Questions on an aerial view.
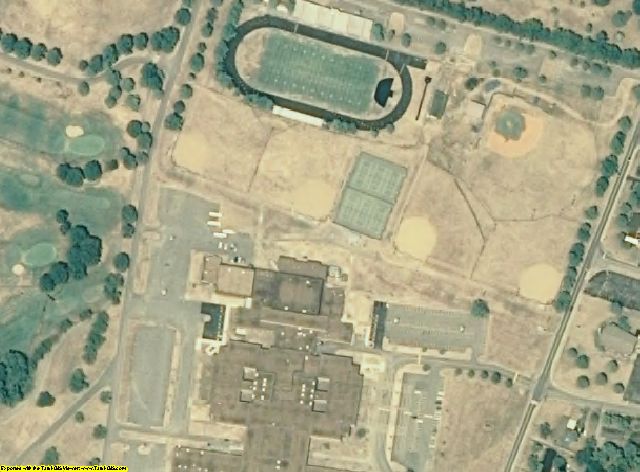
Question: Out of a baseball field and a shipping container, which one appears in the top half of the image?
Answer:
baseball field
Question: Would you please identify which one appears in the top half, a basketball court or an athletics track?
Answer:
athletics track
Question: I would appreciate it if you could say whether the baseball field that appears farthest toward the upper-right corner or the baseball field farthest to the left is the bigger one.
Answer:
the baseball field that appears farthest toward the upper-right corner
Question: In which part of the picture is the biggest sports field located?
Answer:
top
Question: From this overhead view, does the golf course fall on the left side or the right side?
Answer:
left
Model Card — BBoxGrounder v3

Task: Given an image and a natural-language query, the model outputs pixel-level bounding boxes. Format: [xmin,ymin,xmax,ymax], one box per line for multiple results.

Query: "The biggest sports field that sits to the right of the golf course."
[251,28,383,114]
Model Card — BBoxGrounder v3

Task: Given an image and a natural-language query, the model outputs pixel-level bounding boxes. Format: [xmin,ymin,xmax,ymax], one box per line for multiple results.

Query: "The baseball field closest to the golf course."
[172,131,211,169]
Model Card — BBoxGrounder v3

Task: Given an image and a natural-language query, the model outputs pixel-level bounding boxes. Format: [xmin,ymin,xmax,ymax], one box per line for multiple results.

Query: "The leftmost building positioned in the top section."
[430,89,449,119]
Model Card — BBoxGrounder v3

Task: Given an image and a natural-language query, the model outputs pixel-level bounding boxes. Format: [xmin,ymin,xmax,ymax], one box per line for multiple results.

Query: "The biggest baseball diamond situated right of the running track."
[478,97,603,209]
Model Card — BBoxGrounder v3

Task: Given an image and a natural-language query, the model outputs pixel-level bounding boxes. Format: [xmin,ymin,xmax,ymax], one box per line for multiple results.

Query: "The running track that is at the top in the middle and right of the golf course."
[225,17,428,132]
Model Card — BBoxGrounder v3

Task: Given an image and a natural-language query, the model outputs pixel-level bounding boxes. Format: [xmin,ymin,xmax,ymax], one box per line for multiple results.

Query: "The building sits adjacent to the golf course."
[171,254,364,472]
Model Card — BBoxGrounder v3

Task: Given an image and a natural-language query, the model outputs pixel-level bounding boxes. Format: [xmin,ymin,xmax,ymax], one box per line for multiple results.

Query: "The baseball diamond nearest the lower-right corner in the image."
[519,261,566,306]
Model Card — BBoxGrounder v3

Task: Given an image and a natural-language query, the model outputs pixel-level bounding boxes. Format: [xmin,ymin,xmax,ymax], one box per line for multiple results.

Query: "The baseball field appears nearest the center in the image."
[289,175,337,223]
